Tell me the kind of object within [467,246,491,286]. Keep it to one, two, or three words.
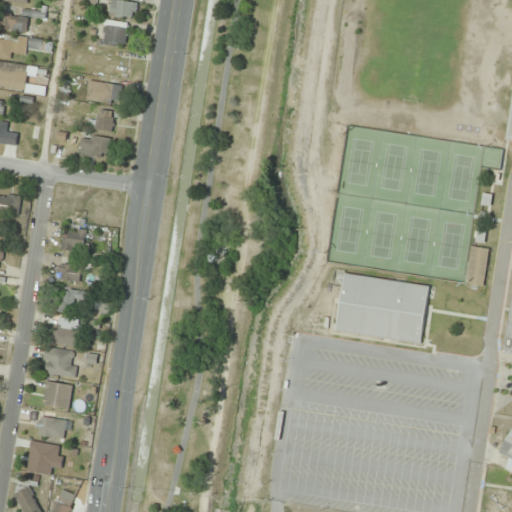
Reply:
building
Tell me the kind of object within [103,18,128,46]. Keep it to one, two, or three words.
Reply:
house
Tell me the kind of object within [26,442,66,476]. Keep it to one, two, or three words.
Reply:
house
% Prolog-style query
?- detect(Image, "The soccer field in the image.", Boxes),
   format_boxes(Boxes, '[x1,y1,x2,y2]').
[362,0,465,107]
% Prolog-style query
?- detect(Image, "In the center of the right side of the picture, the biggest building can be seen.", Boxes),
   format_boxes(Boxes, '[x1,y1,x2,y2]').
[336,272,432,345]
